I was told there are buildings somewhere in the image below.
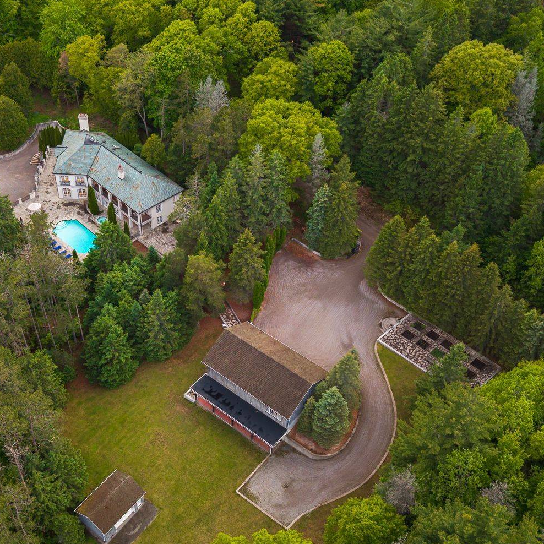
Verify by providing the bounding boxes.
[53,111,184,238]
[187,323,331,455]
[74,470,146,543]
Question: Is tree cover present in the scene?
Yes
